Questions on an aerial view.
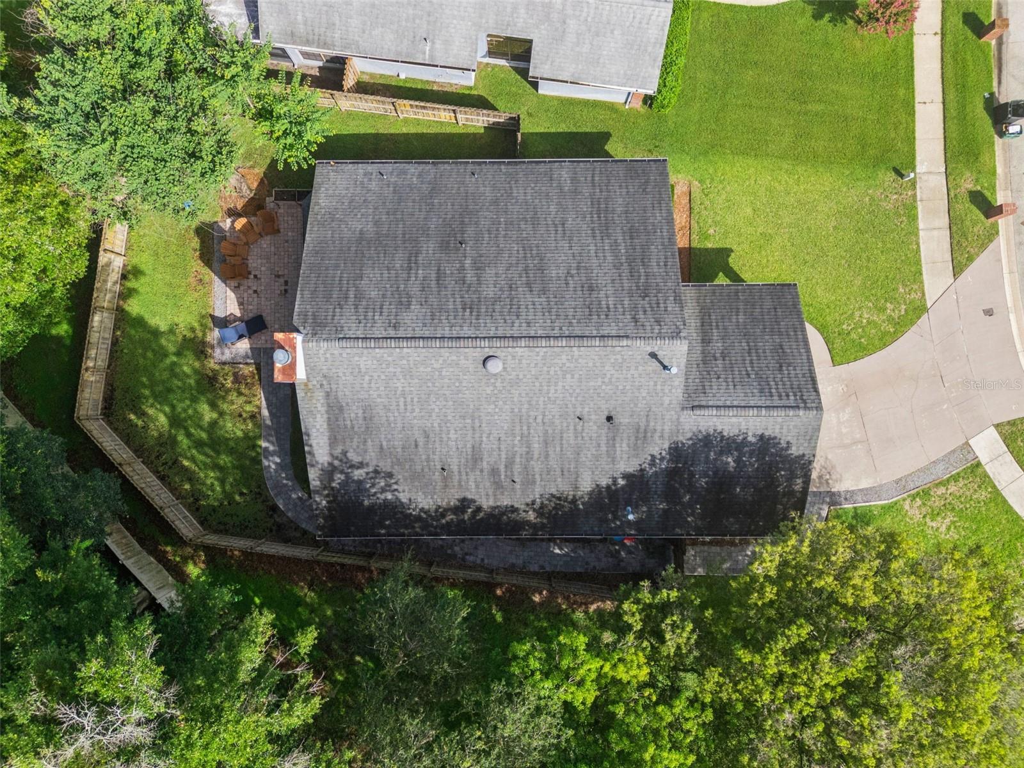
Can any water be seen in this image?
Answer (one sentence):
No, there's no water in this view.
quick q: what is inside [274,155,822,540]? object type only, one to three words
house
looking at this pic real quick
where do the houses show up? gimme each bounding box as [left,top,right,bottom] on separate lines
[274,155,822,540]
[197,0,674,108]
